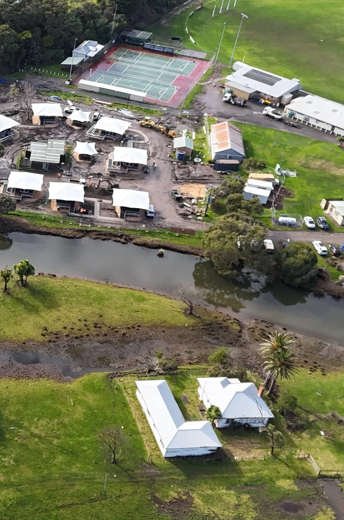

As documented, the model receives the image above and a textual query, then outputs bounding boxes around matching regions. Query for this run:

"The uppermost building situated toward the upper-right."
[225,61,312,106]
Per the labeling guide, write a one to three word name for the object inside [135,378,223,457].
building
